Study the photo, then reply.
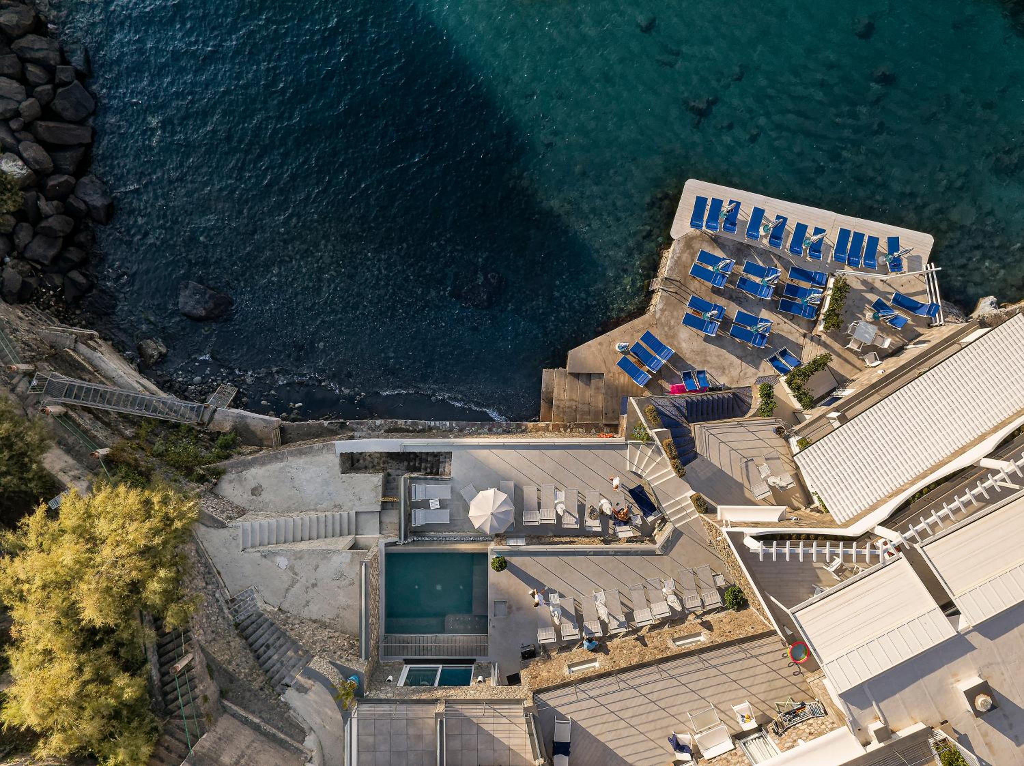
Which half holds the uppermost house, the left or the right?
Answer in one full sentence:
The uppermost house sits on the right side.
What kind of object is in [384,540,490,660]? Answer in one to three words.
swimming pool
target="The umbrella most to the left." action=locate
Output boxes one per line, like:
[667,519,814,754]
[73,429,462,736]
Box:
[467,485,518,537]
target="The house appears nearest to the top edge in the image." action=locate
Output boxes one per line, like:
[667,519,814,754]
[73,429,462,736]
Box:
[785,305,1024,525]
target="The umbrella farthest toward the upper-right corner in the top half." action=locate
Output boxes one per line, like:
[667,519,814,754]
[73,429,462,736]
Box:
[877,249,911,265]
